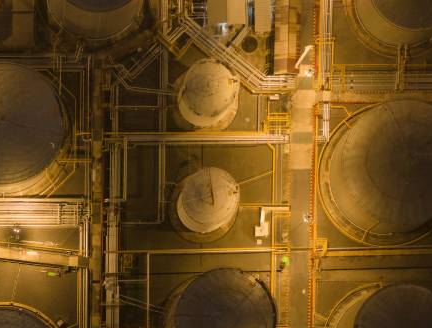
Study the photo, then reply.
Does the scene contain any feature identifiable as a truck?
No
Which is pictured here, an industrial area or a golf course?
industrial area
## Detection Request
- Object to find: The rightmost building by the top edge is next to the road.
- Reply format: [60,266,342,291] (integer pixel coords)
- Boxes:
[271,0,300,79]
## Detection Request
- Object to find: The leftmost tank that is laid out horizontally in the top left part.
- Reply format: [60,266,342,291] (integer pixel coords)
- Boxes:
[46,0,146,42]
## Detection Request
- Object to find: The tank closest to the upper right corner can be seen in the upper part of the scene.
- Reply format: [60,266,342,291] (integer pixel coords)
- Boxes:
[345,0,432,59]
